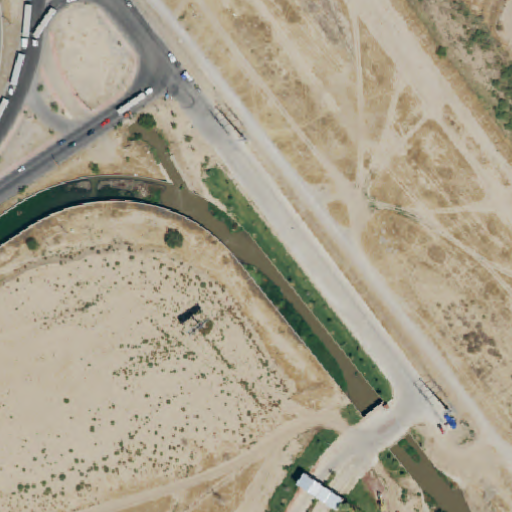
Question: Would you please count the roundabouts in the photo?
0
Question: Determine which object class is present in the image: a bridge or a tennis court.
bridge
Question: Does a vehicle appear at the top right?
No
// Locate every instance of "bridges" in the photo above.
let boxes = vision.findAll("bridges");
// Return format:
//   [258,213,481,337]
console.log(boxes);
[362,400,408,450]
